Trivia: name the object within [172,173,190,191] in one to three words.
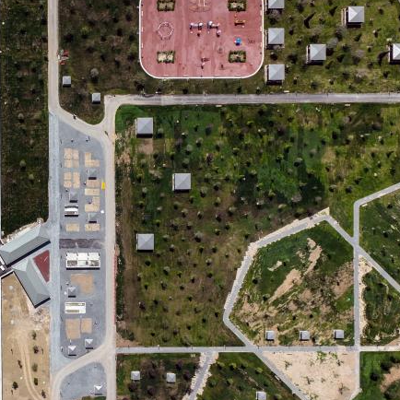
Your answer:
building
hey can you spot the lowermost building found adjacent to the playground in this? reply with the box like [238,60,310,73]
[265,65,285,84]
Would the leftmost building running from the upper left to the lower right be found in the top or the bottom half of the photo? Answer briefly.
bottom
